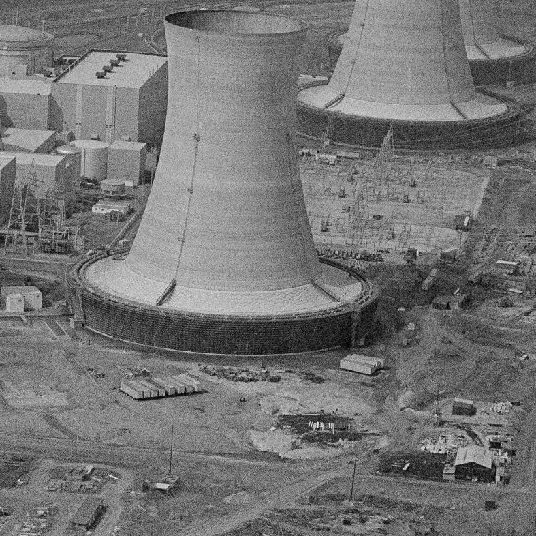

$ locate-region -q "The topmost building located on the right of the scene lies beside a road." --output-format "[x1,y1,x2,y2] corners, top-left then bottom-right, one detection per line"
[457,216,477,233]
